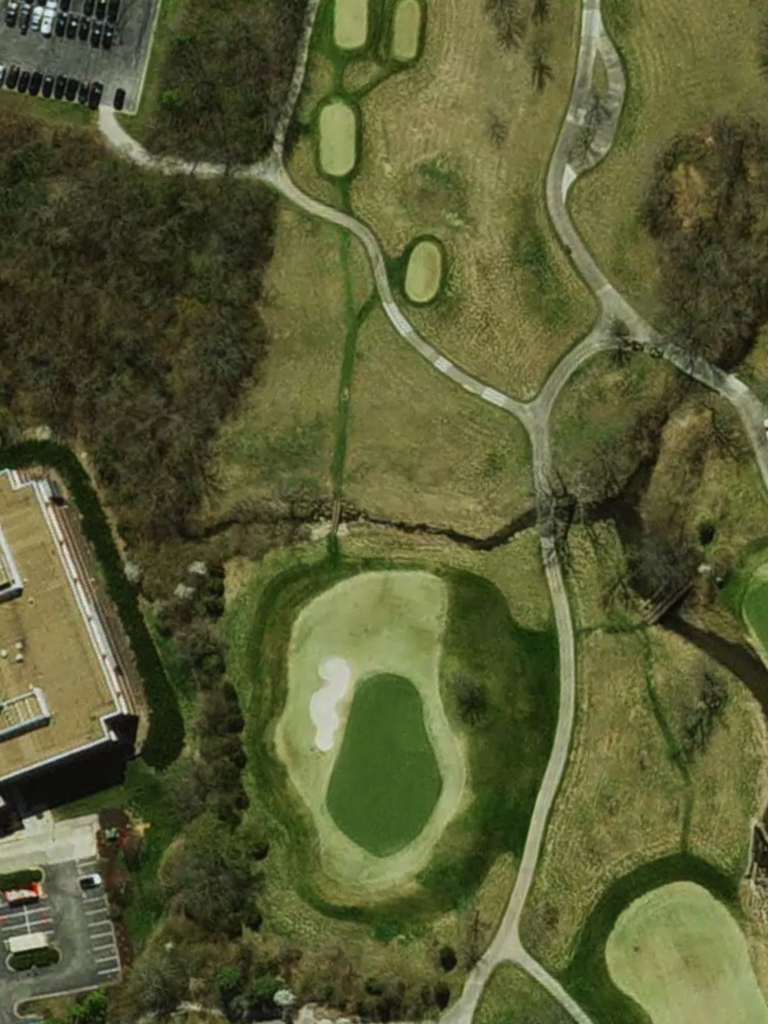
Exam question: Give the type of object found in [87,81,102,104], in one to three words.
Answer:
vehicle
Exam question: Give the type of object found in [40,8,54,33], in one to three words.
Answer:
vehicle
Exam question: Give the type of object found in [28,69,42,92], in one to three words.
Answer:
car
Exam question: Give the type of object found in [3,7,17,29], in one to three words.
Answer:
car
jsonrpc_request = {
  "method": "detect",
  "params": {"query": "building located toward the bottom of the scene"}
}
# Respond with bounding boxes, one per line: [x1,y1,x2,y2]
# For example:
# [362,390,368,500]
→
[0,468,140,783]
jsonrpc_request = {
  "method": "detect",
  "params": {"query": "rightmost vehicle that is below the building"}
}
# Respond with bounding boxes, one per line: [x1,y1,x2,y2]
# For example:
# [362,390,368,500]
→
[78,874,100,886]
